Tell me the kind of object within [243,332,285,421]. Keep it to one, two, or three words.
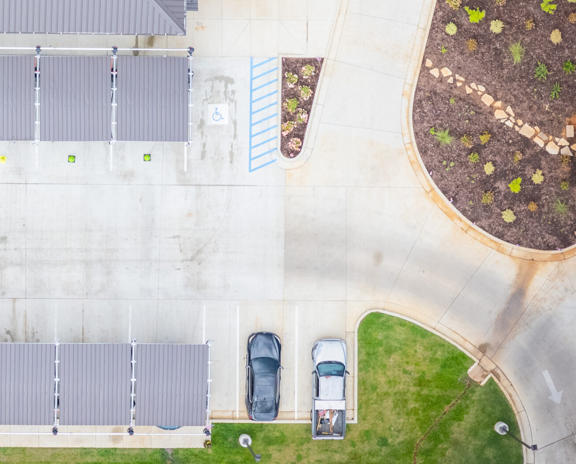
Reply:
car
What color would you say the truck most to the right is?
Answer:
white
